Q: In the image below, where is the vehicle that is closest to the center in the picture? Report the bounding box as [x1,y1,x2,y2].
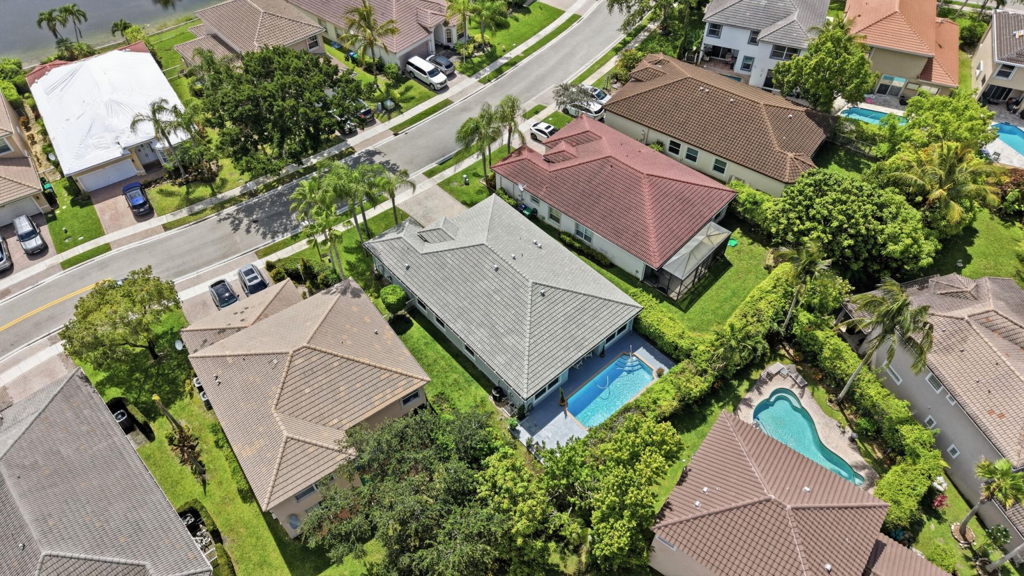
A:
[521,121,557,143]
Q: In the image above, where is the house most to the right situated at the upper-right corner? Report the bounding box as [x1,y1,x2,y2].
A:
[972,7,1024,117]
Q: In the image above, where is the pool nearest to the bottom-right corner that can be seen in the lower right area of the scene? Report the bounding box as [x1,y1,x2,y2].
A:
[753,386,866,486]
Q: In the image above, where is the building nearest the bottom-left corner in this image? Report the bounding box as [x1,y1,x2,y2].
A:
[0,366,211,576]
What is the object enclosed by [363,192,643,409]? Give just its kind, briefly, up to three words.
house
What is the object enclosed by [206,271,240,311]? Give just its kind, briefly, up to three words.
car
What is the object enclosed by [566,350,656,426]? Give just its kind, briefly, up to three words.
swimming pool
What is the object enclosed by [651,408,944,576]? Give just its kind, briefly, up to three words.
house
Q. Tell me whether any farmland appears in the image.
No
